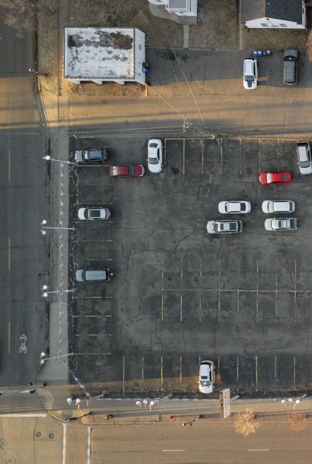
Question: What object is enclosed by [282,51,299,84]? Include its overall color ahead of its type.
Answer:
gray car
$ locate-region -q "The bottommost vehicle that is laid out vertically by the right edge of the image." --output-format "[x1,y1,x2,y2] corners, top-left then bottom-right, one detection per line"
[297,142,312,174]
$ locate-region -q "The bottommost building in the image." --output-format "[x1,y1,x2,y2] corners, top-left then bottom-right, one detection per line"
[64,27,145,83]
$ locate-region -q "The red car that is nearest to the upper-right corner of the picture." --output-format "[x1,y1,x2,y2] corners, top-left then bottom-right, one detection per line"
[260,170,292,185]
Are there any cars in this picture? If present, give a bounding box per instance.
[149,140,164,173]
[80,206,112,221]
[198,360,216,391]
[260,170,292,185]
[77,148,110,164]
[111,163,147,179]
[209,219,245,235]
[266,217,298,231]
[220,200,252,215]
[282,51,299,84]
[242,58,259,90]
[264,199,296,214]
[78,267,113,283]
[297,142,312,174]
